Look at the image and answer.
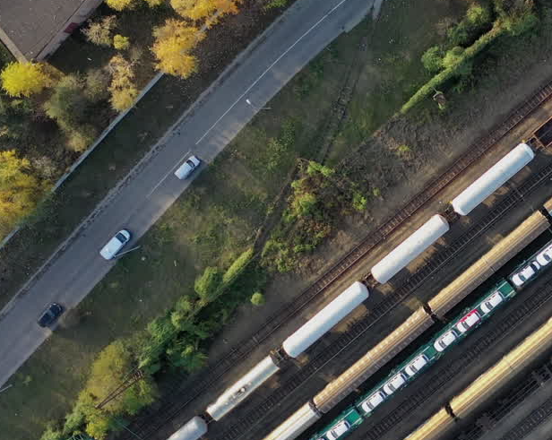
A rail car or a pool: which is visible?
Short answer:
rail car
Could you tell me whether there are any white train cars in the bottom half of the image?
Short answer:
Yes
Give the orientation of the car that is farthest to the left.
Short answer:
on a diagonal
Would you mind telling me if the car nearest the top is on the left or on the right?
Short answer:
left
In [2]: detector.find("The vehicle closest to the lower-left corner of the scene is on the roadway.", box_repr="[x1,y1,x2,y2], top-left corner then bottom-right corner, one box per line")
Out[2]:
[36,302,63,328]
